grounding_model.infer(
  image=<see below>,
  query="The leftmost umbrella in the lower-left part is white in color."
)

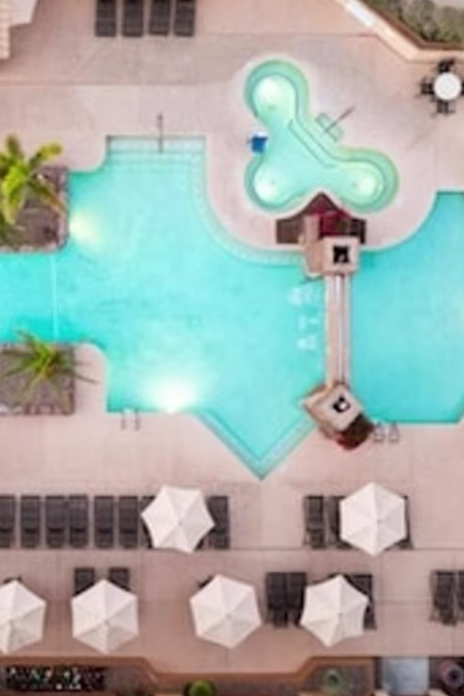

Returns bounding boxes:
[0,577,47,655]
